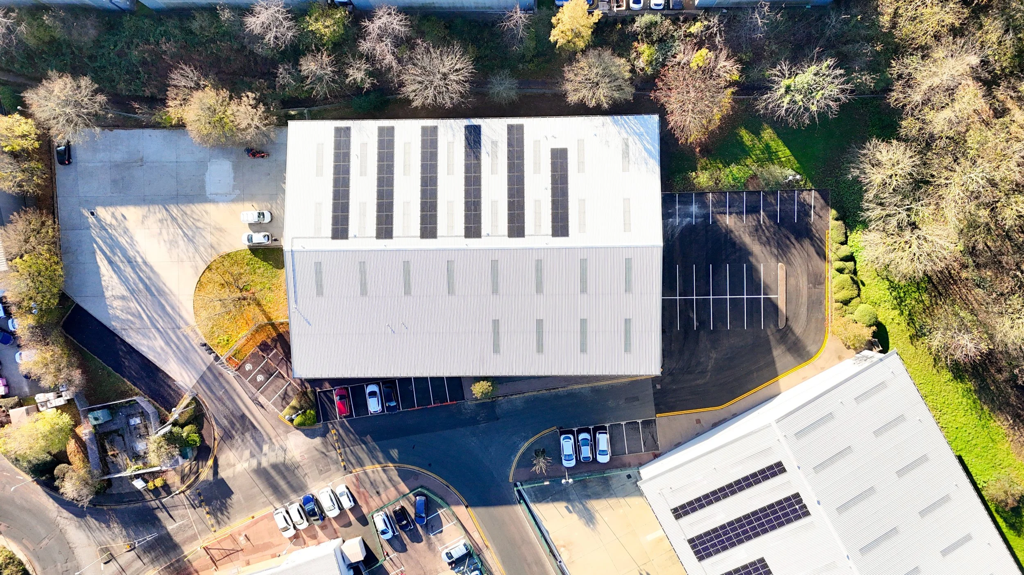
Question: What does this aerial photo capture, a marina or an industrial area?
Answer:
industrial area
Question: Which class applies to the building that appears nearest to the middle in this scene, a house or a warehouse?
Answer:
warehouse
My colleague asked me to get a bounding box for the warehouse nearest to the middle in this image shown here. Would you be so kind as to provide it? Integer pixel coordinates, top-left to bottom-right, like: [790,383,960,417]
[284,112,662,380]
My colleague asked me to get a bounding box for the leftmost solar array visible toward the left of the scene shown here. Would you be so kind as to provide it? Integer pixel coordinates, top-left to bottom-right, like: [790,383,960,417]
[330,126,352,239]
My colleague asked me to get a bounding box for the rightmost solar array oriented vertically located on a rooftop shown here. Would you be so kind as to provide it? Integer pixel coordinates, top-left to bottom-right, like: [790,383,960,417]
[550,148,569,236]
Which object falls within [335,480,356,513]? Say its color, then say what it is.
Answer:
white car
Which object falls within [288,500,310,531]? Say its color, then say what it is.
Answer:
white car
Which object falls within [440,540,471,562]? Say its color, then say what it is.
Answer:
white vehicle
